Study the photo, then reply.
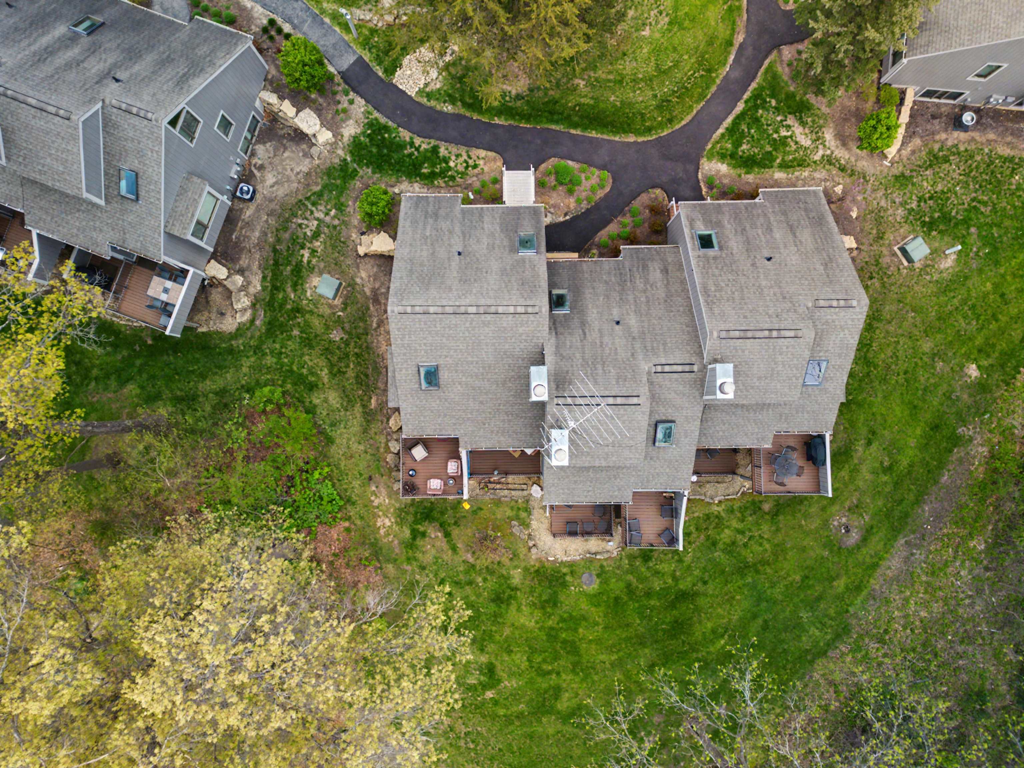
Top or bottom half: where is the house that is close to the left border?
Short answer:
top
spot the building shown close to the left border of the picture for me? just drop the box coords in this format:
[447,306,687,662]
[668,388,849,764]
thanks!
[0,0,268,274]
